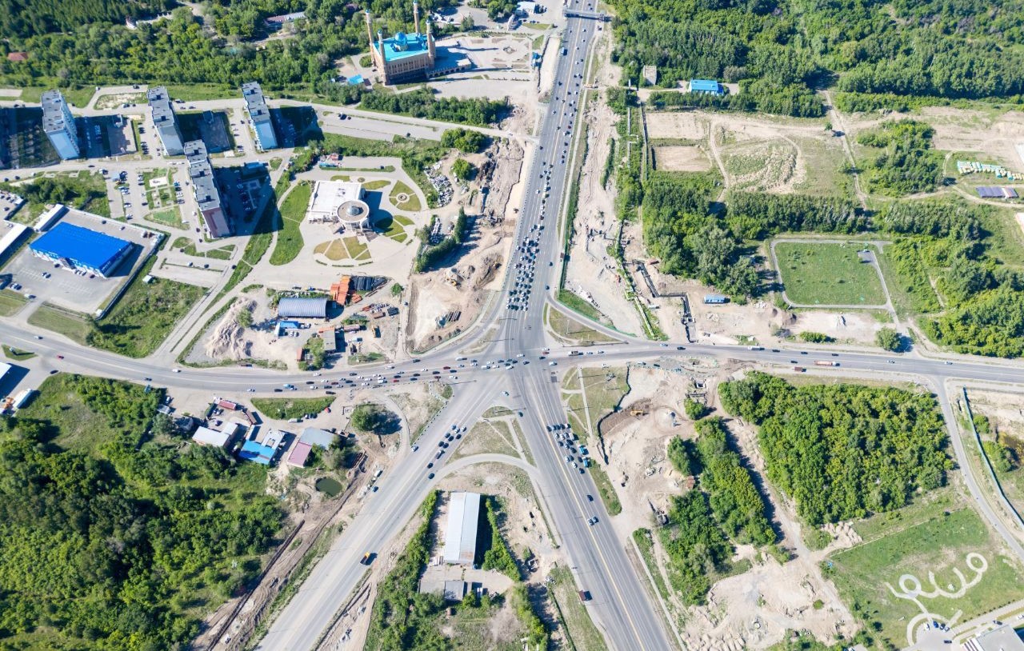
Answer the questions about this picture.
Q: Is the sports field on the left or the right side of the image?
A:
right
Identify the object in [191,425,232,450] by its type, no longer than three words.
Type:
house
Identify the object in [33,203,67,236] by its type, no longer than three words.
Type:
shed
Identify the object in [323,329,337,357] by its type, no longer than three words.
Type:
building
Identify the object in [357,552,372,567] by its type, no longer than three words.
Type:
vehicle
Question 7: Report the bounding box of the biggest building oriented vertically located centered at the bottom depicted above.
[443,492,480,568]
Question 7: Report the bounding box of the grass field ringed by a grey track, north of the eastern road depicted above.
[770,239,904,329]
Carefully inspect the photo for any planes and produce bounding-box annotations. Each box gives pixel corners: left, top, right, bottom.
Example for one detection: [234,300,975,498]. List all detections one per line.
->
[435,14,458,27]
